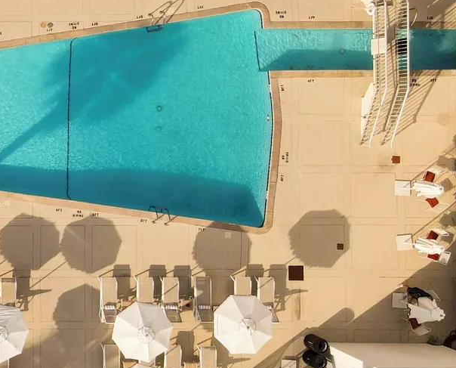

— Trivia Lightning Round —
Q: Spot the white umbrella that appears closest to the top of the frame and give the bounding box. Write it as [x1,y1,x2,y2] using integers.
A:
[399,180,447,197]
